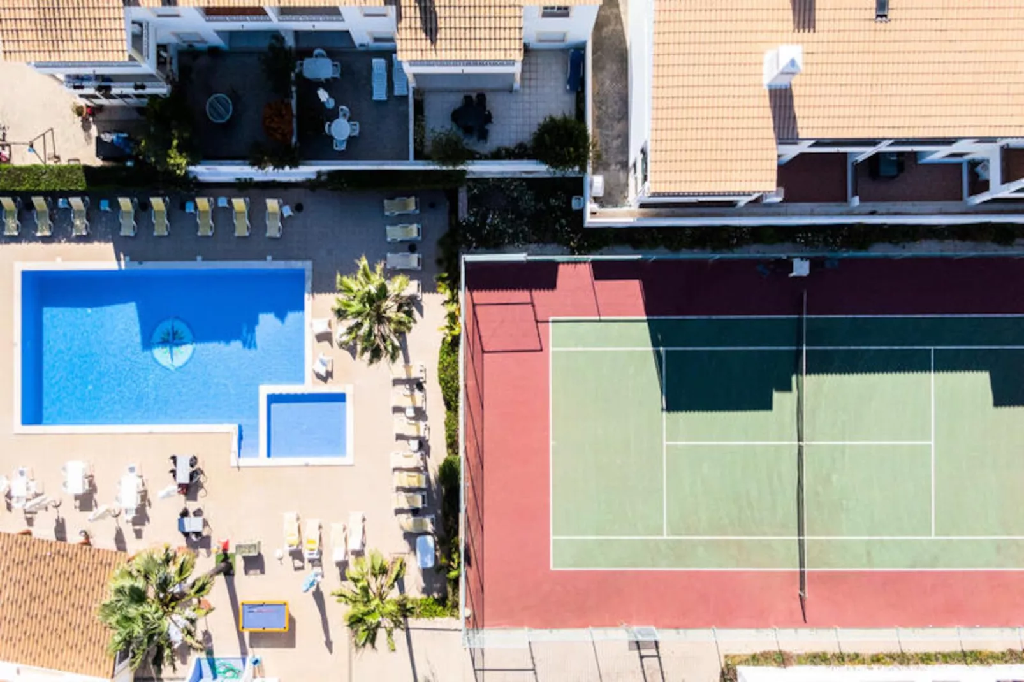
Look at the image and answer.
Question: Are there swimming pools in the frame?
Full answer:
Yes, you can see a swimming pool in this photo.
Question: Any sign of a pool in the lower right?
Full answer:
No, no pool is visible in the lower right.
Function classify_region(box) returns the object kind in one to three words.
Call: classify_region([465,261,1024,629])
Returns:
tennis court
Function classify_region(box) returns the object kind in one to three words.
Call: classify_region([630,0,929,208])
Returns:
house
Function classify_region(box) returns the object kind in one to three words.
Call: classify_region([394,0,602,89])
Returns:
house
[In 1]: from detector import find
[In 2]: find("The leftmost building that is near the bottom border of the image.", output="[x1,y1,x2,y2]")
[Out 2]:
[0,531,128,682]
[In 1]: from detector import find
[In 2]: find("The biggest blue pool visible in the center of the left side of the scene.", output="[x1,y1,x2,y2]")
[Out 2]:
[13,256,313,465]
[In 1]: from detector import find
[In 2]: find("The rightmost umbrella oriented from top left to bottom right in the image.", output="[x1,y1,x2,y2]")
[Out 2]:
[318,87,336,108]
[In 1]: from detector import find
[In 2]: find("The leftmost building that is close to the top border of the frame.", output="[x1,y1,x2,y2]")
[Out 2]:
[0,0,188,110]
